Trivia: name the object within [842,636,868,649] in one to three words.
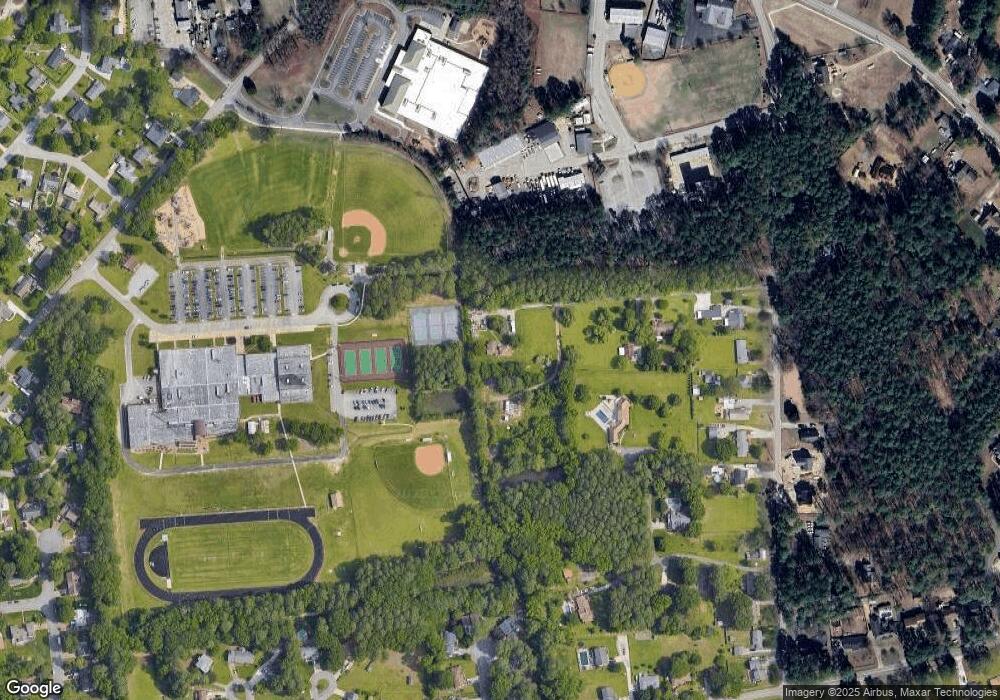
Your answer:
house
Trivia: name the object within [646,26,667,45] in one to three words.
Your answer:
shed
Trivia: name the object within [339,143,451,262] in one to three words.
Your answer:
baseball field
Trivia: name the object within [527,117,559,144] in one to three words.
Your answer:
building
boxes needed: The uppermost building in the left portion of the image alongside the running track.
[127,345,312,451]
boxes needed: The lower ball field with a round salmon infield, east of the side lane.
[372,442,455,508]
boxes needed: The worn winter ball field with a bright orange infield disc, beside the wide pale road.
[608,39,763,138]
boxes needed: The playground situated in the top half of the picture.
[472,21,494,46]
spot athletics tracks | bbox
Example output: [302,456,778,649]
[134,508,324,602]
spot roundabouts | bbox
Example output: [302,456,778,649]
[310,284,359,328]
